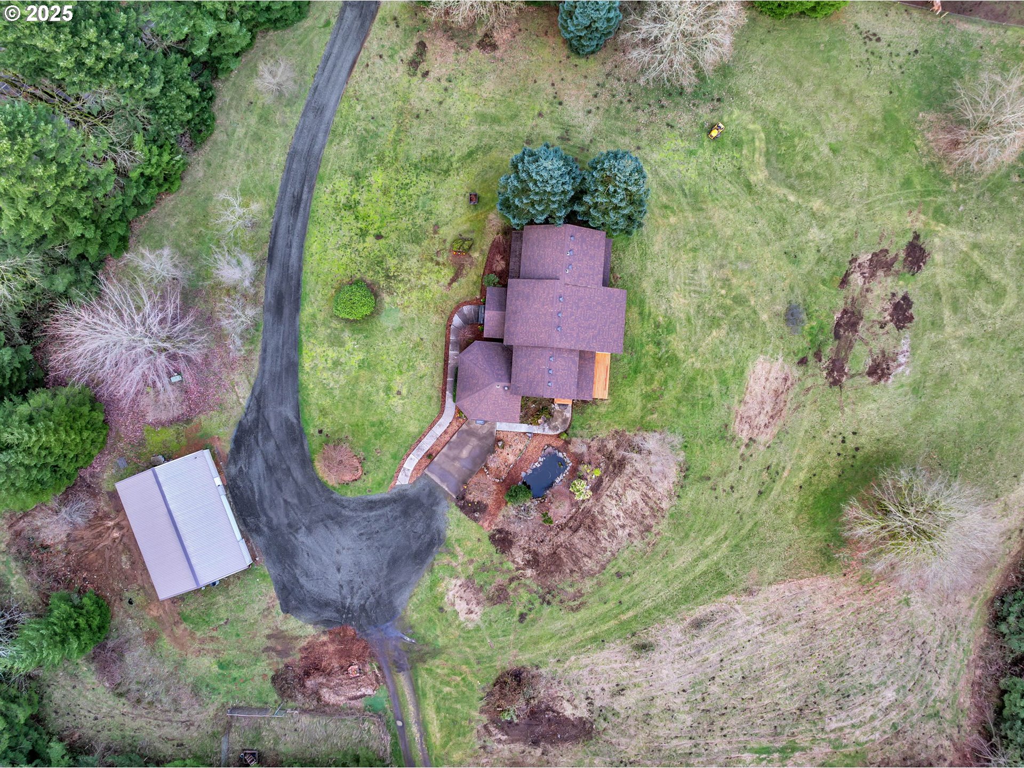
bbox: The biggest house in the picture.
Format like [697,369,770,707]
[455,223,627,425]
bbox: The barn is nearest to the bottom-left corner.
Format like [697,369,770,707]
[115,450,251,600]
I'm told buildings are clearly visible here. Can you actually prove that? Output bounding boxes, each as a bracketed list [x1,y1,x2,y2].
[115,450,251,600]
[455,223,627,425]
